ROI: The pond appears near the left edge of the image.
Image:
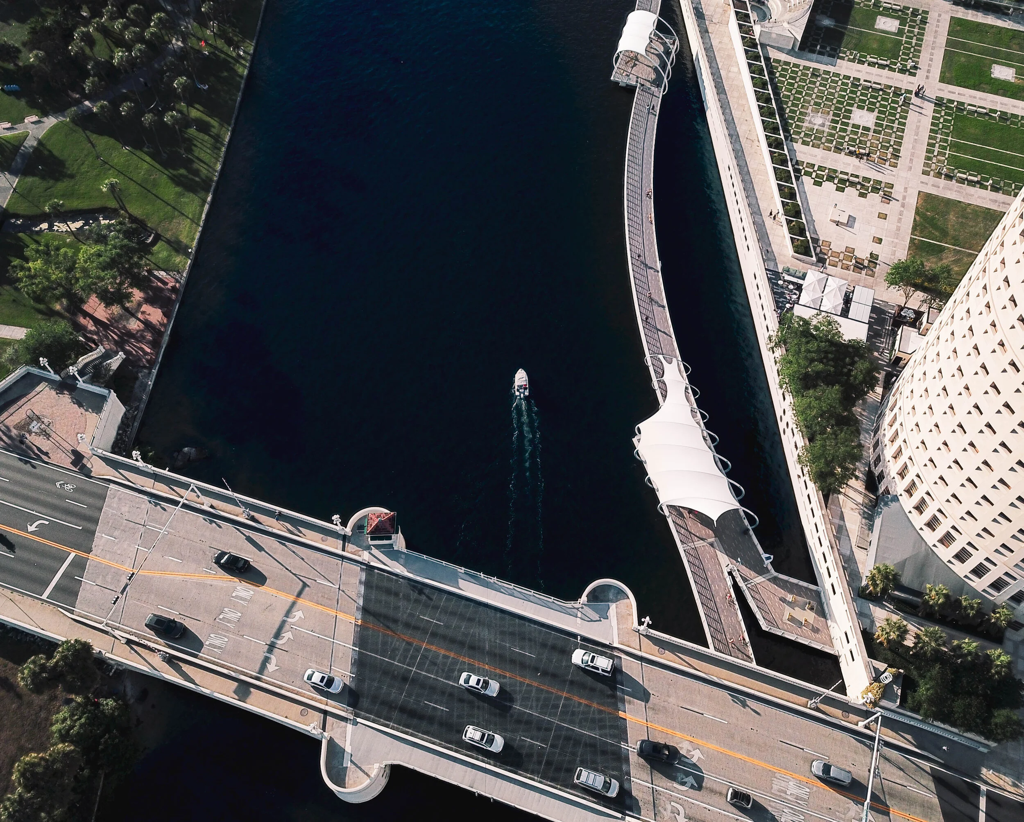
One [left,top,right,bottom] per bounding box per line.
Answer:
[1,212,121,233]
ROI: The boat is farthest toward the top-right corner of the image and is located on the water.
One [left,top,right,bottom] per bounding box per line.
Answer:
[513,366,530,399]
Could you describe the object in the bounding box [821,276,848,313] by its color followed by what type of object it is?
white tent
